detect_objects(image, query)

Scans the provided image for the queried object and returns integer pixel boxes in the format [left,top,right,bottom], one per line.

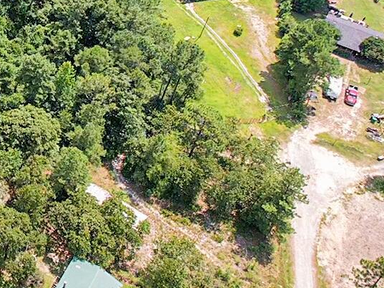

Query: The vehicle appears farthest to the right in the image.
[343,83,360,105]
